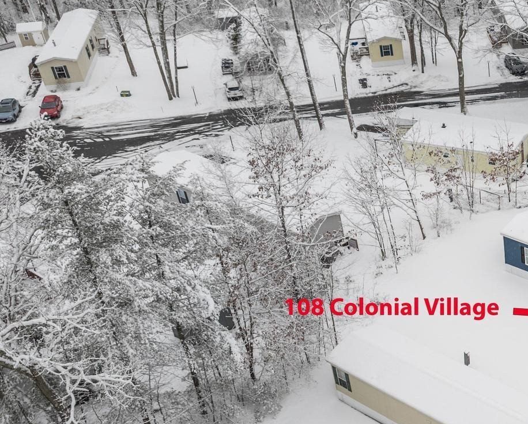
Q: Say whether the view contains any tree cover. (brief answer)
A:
Yes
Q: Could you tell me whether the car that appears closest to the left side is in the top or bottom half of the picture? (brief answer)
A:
top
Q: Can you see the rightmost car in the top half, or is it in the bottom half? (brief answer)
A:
top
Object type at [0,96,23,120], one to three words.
car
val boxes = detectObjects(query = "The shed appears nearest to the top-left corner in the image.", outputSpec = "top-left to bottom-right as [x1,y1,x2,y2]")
[13,21,50,46]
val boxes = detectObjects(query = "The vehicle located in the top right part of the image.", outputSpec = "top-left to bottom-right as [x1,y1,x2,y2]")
[504,50,528,74]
